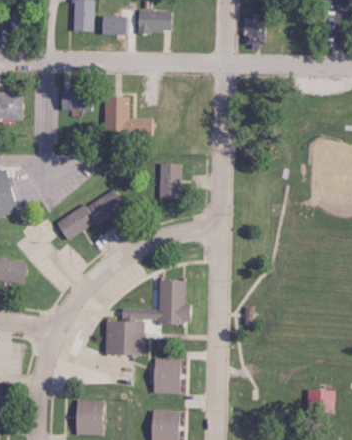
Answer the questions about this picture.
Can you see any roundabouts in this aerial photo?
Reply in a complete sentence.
No, the photo shows no roundabout.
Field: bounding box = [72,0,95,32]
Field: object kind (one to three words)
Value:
house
